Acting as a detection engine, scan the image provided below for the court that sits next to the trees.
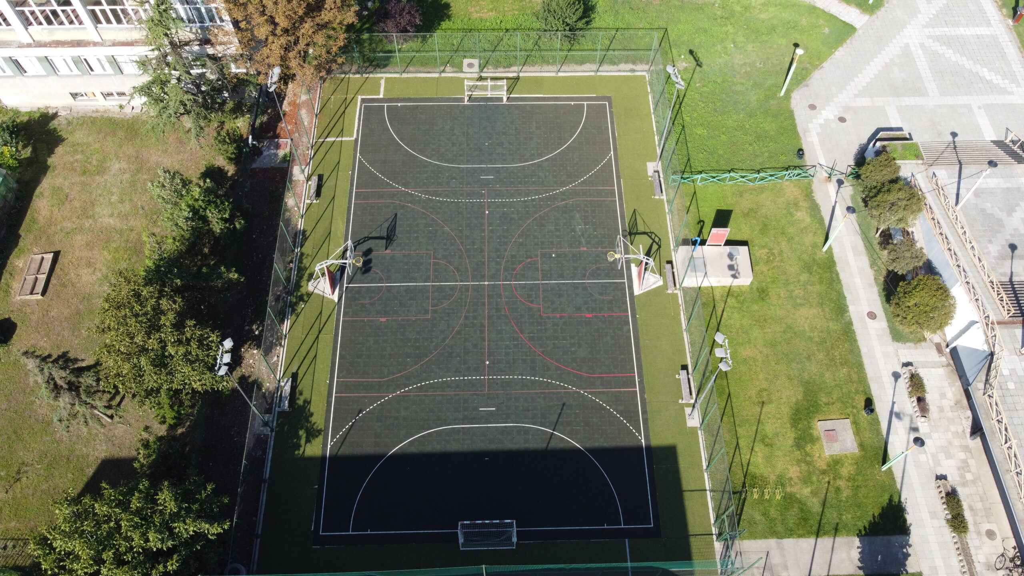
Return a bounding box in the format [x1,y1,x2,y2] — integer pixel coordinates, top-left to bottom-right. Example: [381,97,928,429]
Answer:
[248,71,726,576]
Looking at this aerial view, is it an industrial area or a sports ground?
sports ground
